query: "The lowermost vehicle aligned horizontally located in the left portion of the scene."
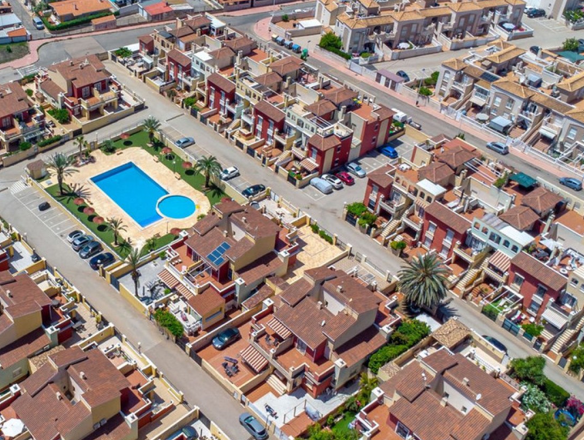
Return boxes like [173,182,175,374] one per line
[167,425,202,440]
